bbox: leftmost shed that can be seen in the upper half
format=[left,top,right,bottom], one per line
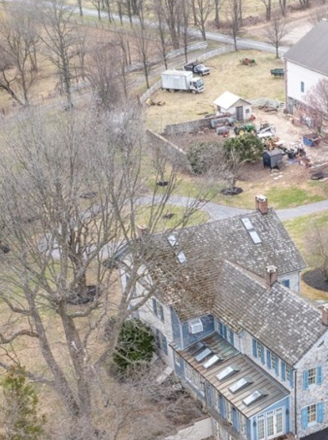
[212,89,257,121]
